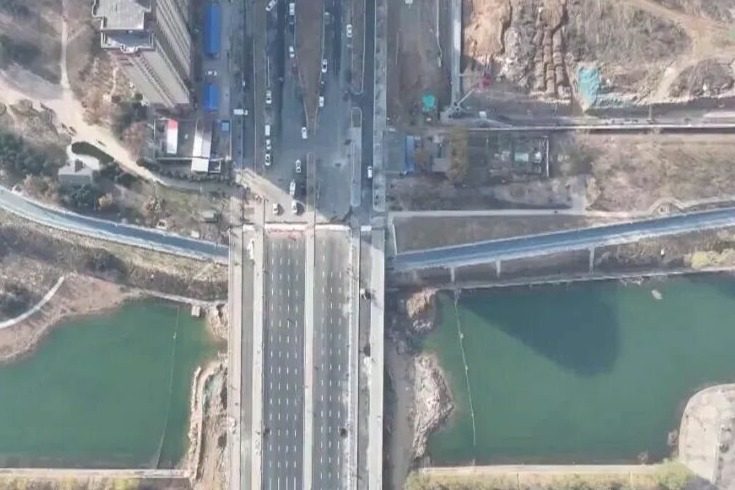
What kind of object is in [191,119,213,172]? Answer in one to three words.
building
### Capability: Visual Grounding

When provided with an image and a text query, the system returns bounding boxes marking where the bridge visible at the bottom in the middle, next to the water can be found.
[228,223,384,490]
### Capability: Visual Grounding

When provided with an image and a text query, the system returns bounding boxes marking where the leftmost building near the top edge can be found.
[91,0,199,110]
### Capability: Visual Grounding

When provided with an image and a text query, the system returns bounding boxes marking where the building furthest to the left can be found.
[59,159,93,184]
